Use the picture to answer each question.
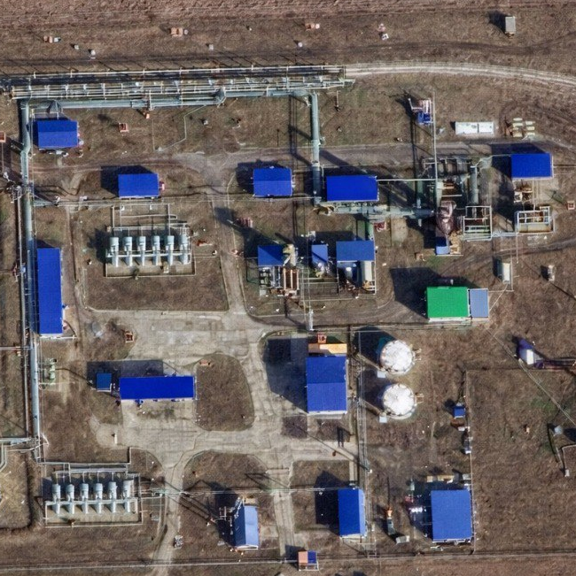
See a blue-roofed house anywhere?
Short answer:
Yes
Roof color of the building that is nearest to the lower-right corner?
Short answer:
blue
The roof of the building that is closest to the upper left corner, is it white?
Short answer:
No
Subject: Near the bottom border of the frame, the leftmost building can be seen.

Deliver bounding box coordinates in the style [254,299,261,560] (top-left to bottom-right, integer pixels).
[234,504,259,551]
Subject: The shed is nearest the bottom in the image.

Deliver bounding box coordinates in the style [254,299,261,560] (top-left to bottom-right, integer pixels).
[299,552,318,574]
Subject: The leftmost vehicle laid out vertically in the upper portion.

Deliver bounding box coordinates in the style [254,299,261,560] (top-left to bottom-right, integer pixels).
[413,92,431,125]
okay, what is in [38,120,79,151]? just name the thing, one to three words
building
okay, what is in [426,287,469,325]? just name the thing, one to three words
building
